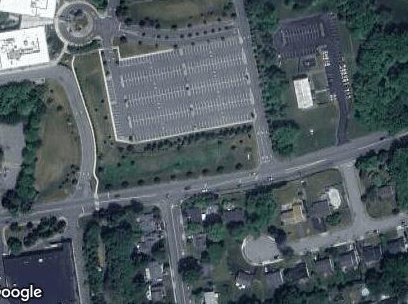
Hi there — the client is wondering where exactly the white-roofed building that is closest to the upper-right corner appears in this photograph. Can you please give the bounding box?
[294,78,313,109]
